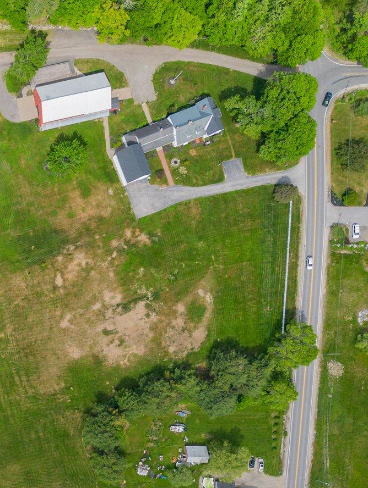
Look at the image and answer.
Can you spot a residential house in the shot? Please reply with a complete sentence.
Yes, there's a residential house here.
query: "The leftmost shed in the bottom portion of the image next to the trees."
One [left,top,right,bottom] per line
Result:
[183,443,209,463]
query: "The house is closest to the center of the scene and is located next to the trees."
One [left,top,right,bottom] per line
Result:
[112,97,227,186]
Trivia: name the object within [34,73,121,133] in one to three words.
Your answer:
barn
